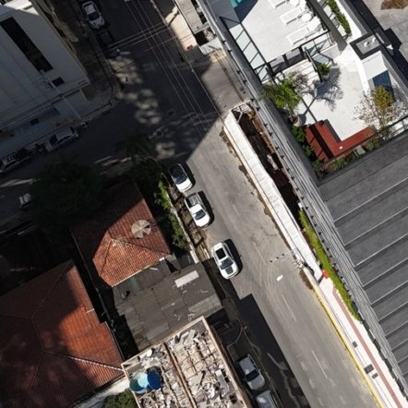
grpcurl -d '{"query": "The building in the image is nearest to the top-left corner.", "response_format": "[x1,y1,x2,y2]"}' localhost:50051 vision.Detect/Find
[0,0,102,159]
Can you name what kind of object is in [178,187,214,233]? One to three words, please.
truck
